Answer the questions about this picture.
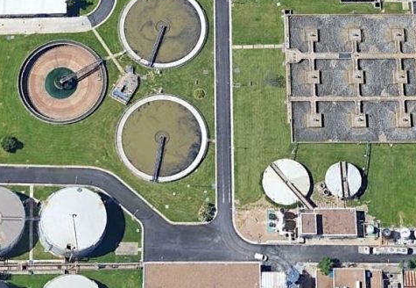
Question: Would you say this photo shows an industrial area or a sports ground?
industrial area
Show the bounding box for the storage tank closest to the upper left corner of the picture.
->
[17,40,107,124]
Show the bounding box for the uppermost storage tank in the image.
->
[116,0,209,70]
